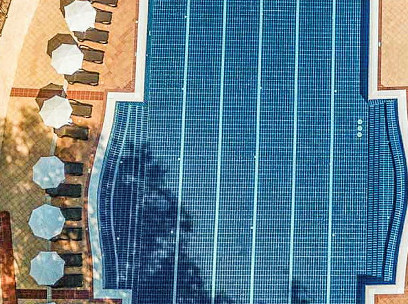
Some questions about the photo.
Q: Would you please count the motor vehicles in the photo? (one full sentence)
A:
There are no motor vehicles in the image.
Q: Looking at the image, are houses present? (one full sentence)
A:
No, there's no house here.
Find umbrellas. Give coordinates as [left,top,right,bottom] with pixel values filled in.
[28,246,73,287]
[27,201,73,242]
[39,92,81,128]
[31,154,73,190]
[62,0,104,34]
[52,42,91,75]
